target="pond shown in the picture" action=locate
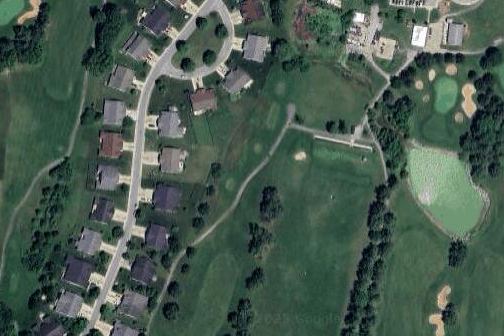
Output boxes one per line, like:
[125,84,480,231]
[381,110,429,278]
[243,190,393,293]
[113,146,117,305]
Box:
[407,148,483,237]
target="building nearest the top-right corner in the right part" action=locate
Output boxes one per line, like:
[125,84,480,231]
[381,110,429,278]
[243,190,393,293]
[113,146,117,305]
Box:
[442,21,464,46]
